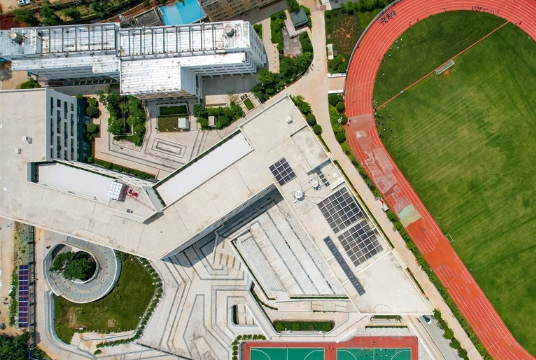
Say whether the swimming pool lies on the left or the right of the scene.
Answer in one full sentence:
The swimming pool is on the left side of the image.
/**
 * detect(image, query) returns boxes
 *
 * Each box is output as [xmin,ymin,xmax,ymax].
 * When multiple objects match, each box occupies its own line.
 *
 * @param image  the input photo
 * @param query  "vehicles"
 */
[17,0,29,5]
[422,314,432,326]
